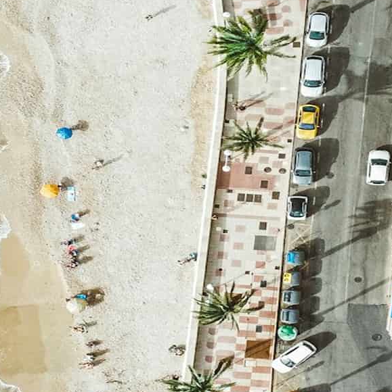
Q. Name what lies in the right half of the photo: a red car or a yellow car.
yellow car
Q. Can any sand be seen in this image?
Yes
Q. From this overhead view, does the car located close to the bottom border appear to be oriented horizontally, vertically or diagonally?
diagonally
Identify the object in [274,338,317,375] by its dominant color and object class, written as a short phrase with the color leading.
white car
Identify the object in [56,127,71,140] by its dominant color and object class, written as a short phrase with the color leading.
blue umbrella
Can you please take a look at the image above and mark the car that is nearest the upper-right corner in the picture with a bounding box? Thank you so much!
[305,10,330,49]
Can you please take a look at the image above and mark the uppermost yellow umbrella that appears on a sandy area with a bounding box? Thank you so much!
[41,183,58,197]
